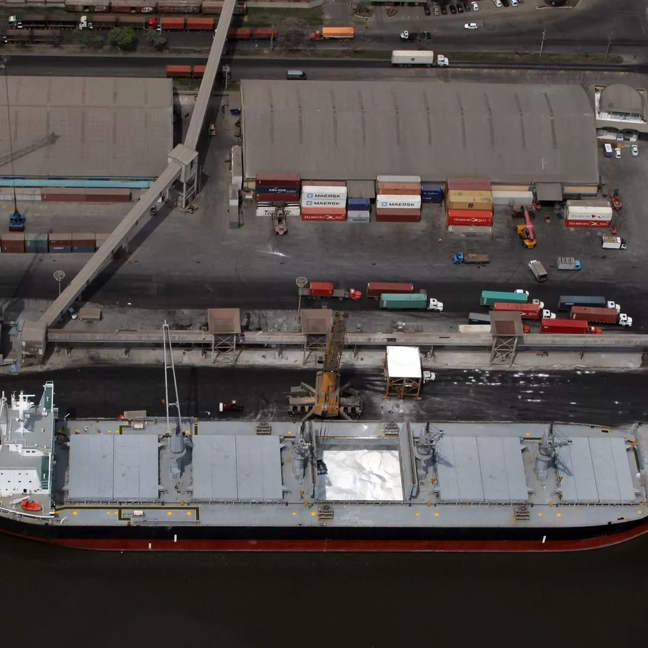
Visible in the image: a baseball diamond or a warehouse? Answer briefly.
warehouse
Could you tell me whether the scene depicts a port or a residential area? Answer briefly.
port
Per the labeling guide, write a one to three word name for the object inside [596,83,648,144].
building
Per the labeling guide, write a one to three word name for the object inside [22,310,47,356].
building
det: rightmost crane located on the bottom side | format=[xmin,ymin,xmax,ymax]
[531,422,574,490]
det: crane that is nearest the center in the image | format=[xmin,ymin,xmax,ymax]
[292,314,361,421]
